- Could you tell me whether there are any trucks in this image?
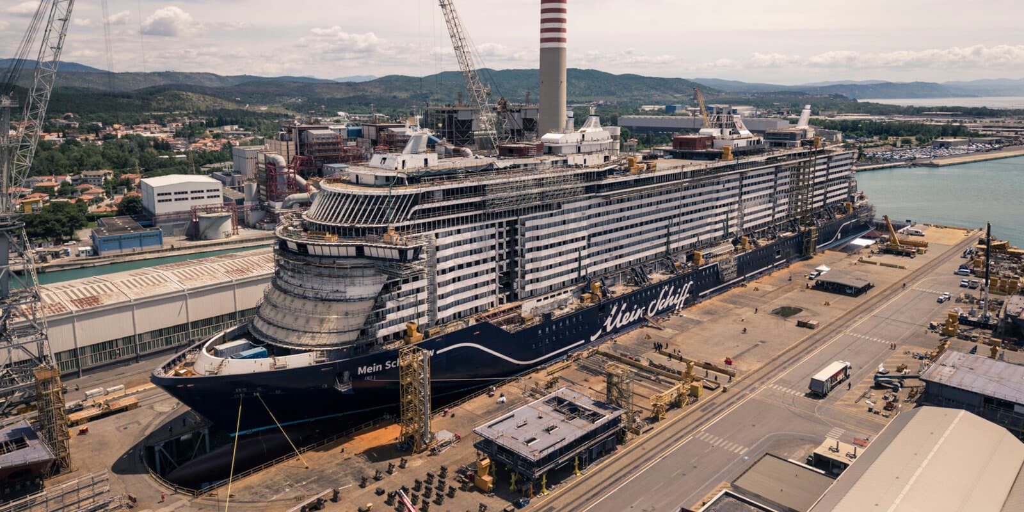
Yes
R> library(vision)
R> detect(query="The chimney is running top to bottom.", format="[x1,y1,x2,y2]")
[539,0,567,128]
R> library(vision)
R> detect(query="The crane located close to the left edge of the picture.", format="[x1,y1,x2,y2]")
[0,0,150,429]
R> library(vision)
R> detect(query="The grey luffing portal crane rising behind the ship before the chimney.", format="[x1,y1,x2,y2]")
[418,0,518,141]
